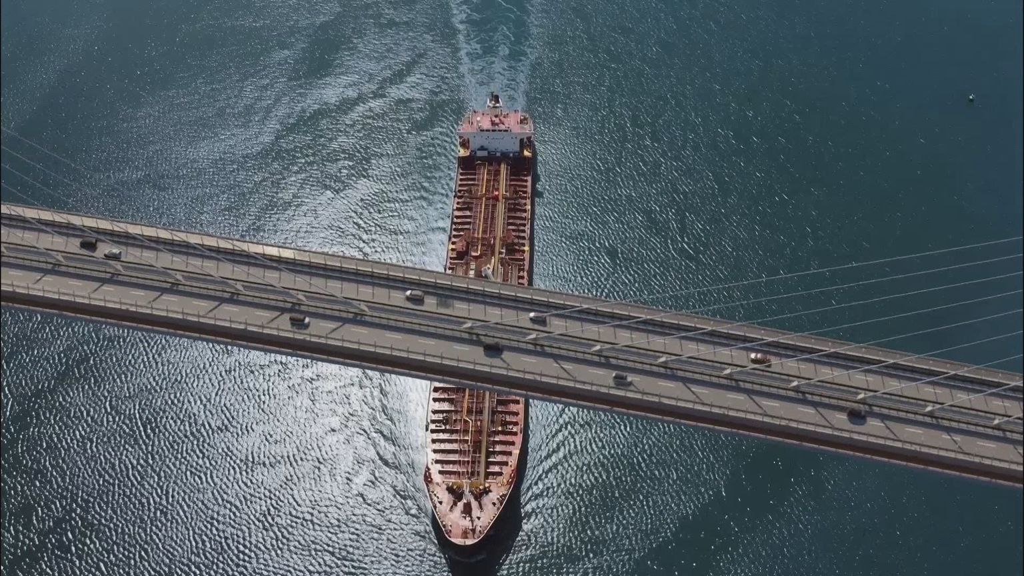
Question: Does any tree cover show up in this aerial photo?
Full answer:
No, tree cover can't be seen anywhere here.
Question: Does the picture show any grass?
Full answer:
No, no grass is visible.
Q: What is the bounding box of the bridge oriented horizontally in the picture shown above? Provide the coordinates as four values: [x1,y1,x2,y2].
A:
[0,127,1024,492]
